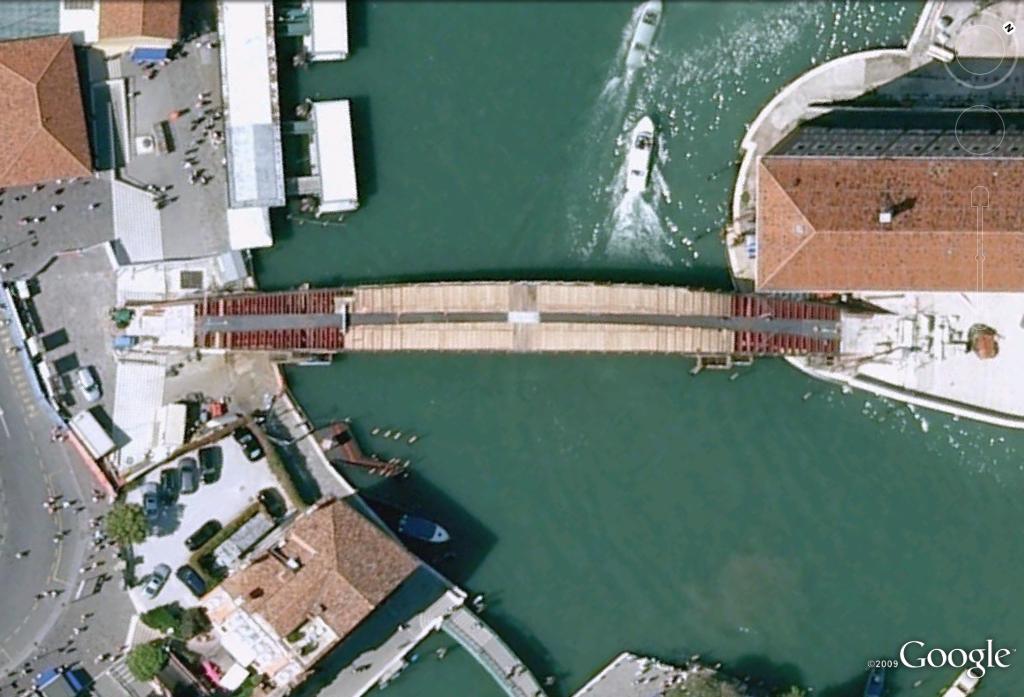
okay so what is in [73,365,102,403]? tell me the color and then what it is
white car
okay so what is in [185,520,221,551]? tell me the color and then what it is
black car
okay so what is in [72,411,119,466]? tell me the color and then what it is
white truck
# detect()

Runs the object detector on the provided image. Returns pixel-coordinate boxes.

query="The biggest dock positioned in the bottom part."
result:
[318,421,404,476]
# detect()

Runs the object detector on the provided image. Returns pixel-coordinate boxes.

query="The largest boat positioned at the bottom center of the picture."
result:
[396,514,448,540]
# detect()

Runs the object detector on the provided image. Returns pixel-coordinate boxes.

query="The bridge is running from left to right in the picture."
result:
[190,279,846,356]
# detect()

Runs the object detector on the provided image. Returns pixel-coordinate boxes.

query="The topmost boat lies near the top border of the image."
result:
[625,0,661,70]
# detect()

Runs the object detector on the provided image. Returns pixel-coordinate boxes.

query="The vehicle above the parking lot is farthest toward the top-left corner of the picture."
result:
[112,336,138,349]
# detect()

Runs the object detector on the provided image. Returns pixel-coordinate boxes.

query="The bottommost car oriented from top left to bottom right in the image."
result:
[175,563,206,599]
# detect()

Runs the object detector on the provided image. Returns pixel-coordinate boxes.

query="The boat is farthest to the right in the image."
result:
[947,667,981,697]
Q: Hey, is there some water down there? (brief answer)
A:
Yes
